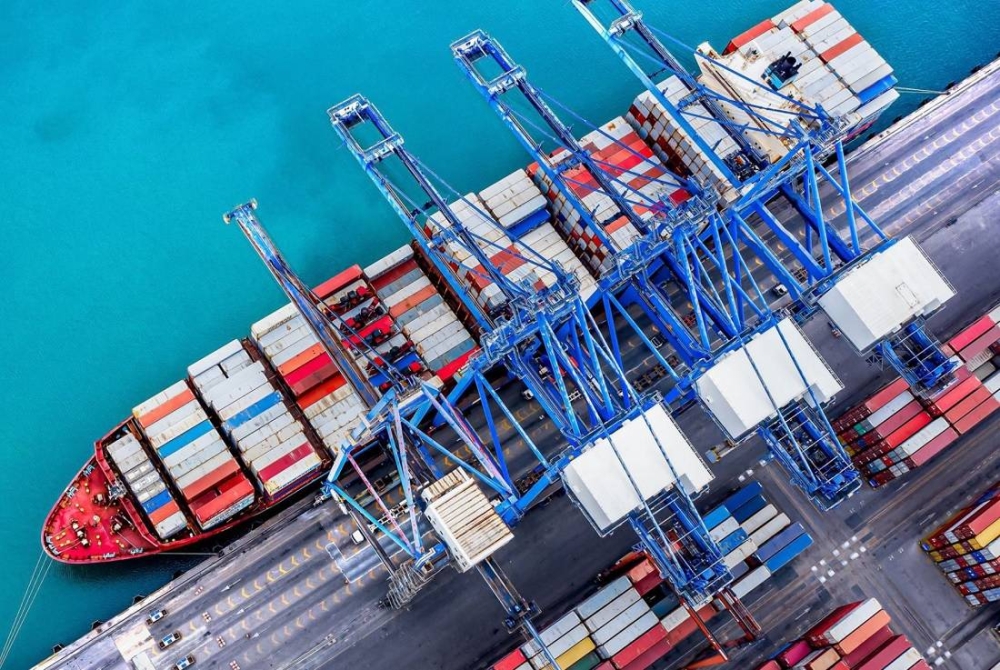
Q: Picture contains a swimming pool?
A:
No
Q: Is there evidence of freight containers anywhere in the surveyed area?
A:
Yes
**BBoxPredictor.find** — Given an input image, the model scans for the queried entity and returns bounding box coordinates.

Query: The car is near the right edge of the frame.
[944,211,962,227]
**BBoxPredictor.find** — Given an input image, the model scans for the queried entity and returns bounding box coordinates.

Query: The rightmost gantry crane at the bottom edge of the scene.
[583,527,766,670]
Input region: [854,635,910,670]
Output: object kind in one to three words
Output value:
shipping container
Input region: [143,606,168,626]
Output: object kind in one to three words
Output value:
car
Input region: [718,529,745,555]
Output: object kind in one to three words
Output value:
shipping container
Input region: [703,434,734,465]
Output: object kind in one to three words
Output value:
truck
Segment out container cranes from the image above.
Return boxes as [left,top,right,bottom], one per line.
[583,527,766,670]
[450,31,854,515]
[327,95,732,608]
[226,197,564,670]
[569,0,960,403]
